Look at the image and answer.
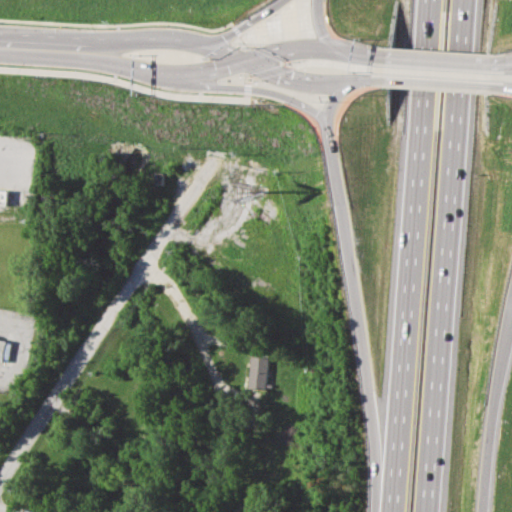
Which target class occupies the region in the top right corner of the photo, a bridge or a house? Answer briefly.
bridge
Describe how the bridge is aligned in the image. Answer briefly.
from left to right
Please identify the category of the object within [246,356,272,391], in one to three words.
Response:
house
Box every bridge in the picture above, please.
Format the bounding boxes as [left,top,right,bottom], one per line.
[385,48,504,96]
